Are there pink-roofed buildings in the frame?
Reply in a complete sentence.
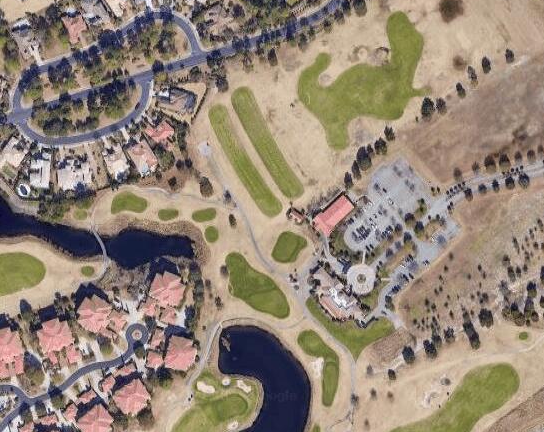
Yes, a pink-roofed building can be made out from above.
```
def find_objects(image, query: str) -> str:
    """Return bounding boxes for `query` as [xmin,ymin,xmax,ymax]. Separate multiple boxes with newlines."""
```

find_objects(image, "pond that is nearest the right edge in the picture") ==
[218,325,310,432]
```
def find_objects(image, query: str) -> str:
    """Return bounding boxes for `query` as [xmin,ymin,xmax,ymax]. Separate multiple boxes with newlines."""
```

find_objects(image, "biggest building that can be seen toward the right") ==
[307,268,360,324]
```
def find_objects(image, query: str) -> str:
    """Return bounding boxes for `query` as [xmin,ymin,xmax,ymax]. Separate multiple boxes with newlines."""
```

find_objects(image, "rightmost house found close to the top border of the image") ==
[204,0,231,34]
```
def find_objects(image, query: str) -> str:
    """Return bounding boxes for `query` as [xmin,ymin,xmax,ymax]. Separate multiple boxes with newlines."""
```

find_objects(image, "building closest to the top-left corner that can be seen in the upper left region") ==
[10,23,40,66]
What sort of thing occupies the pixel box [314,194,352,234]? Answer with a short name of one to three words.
building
